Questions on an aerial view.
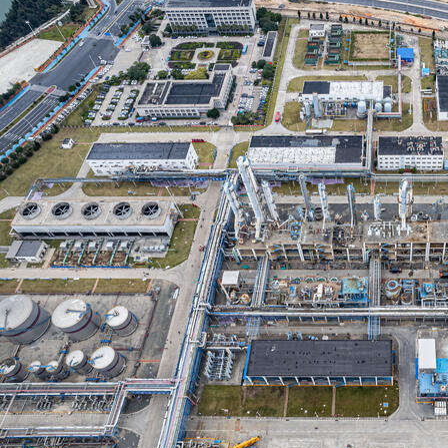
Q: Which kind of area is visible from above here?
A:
industrial area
